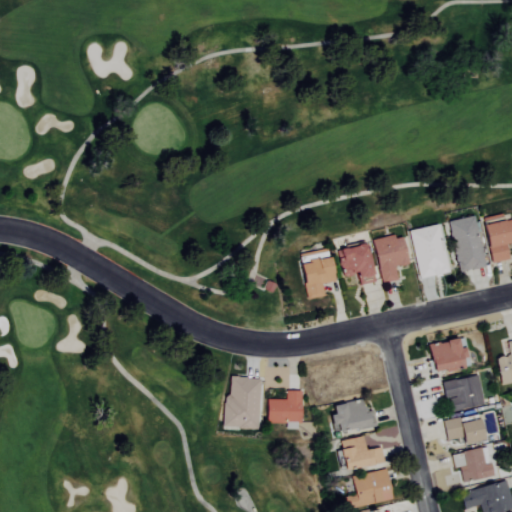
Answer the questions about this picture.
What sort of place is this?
golf course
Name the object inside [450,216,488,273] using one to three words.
house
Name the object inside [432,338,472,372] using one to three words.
house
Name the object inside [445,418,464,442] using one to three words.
building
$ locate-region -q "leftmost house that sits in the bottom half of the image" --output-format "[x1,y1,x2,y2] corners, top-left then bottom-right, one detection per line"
[222,376,263,432]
